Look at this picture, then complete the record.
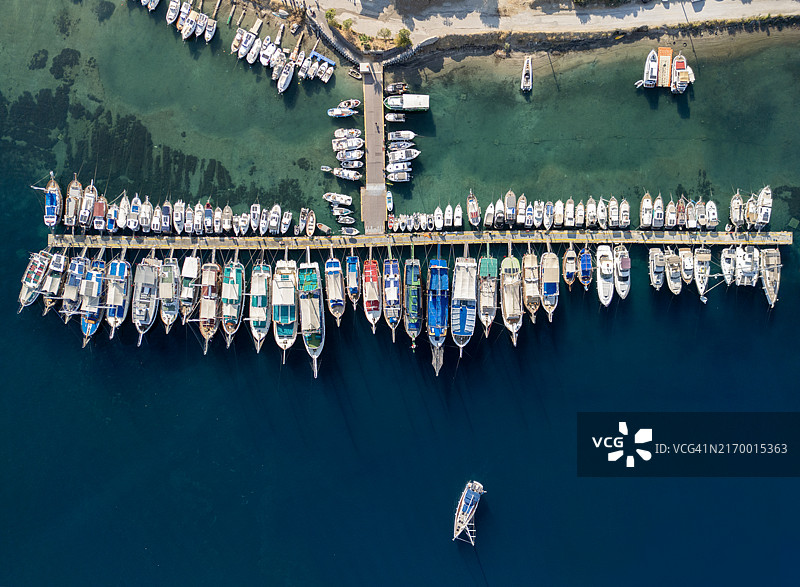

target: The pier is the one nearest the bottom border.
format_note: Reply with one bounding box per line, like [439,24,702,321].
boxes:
[48,231,792,247]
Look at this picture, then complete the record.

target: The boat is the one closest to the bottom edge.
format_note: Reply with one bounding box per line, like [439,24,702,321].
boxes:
[452,481,487,540]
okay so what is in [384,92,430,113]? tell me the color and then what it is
white ship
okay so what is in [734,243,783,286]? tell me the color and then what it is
white boat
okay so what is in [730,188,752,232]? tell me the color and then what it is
white boat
